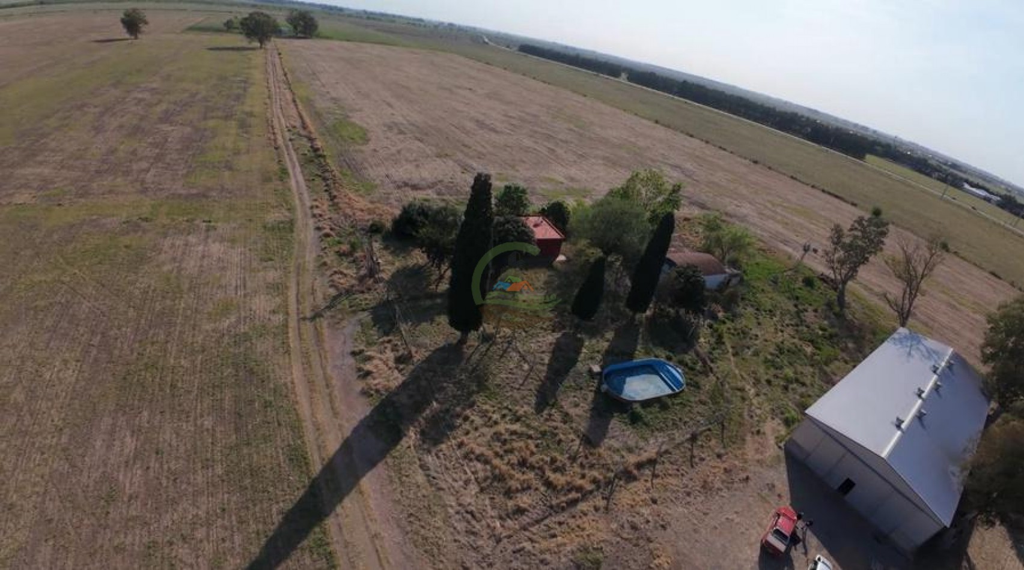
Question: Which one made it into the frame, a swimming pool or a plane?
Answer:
swimming pool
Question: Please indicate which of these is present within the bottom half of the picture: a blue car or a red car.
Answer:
red car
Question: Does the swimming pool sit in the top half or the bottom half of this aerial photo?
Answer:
bottom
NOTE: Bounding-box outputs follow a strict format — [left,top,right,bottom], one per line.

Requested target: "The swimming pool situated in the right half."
[601,358,686,406]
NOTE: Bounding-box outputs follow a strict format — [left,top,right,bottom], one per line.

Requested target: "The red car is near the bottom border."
[760,506,808,555]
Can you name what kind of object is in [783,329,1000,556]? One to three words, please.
hangar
